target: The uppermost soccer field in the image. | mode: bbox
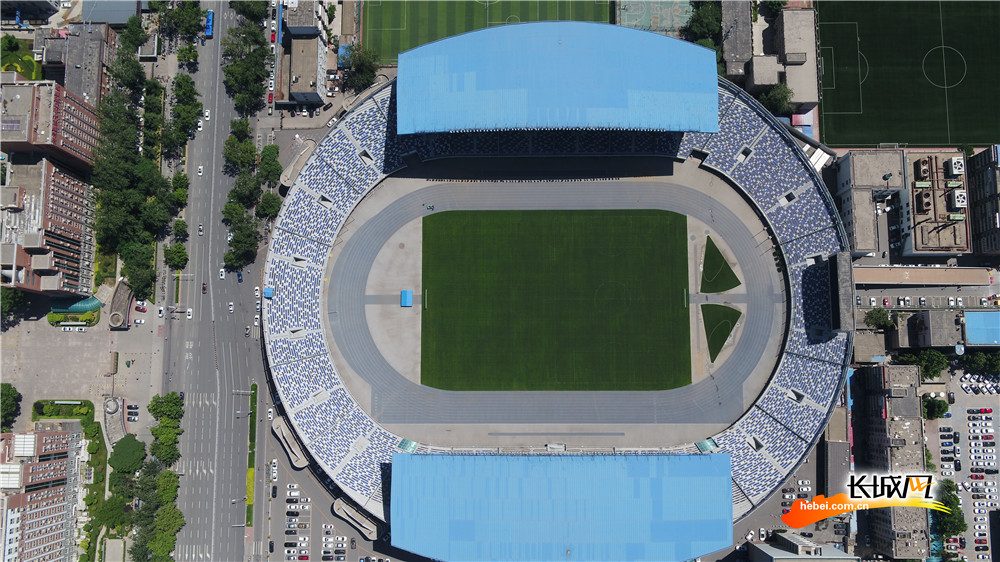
[362,0,611,67]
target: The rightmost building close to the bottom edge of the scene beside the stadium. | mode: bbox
[868,414,932,558]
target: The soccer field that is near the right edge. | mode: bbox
[820,0,1000,146]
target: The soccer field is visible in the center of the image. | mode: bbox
[420,211,692,389]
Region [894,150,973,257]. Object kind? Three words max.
building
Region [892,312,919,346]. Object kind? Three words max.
house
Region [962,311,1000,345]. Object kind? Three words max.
building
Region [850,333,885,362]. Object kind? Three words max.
shed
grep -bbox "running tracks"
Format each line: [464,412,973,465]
[326,182,784,424]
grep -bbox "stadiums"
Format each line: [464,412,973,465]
[263,21,854,562]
